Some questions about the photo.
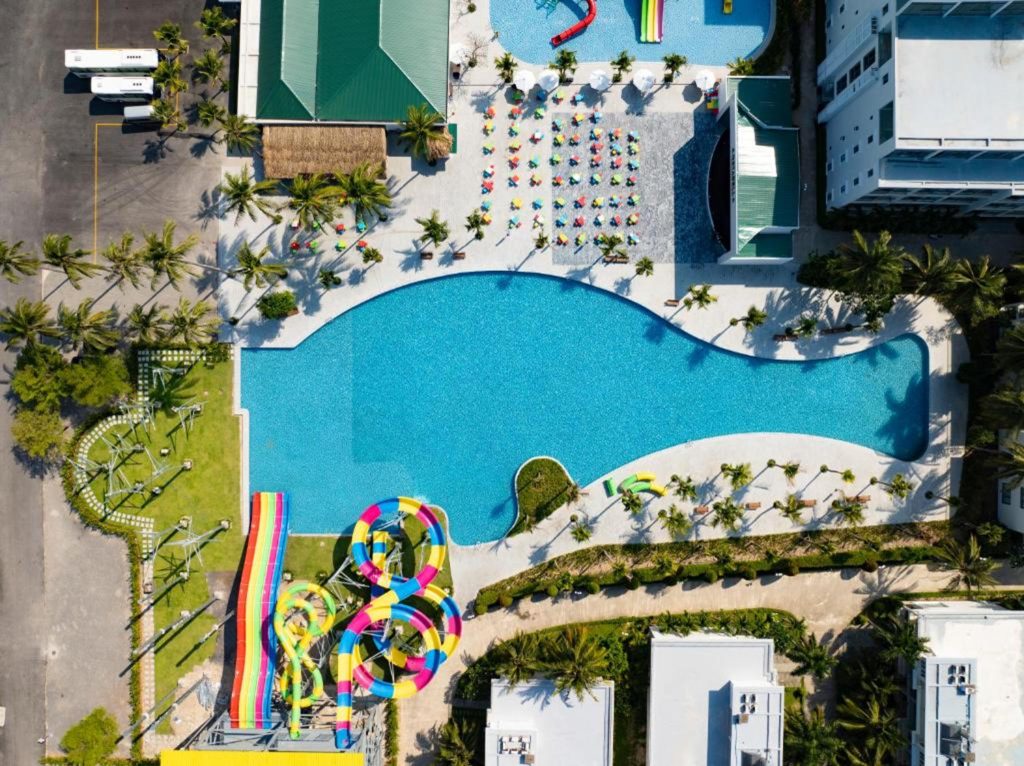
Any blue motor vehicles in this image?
No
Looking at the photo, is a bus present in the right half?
No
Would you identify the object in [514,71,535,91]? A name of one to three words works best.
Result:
umbrella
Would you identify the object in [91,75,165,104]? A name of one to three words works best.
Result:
bus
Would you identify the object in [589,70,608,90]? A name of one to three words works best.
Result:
umbrella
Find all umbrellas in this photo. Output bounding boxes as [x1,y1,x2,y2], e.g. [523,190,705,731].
[514,71,535,91]
[696,70,716,90]
[538,70,558,90]
[634,71,654,91]
[589,70,608,90]
[449,44,468,65]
